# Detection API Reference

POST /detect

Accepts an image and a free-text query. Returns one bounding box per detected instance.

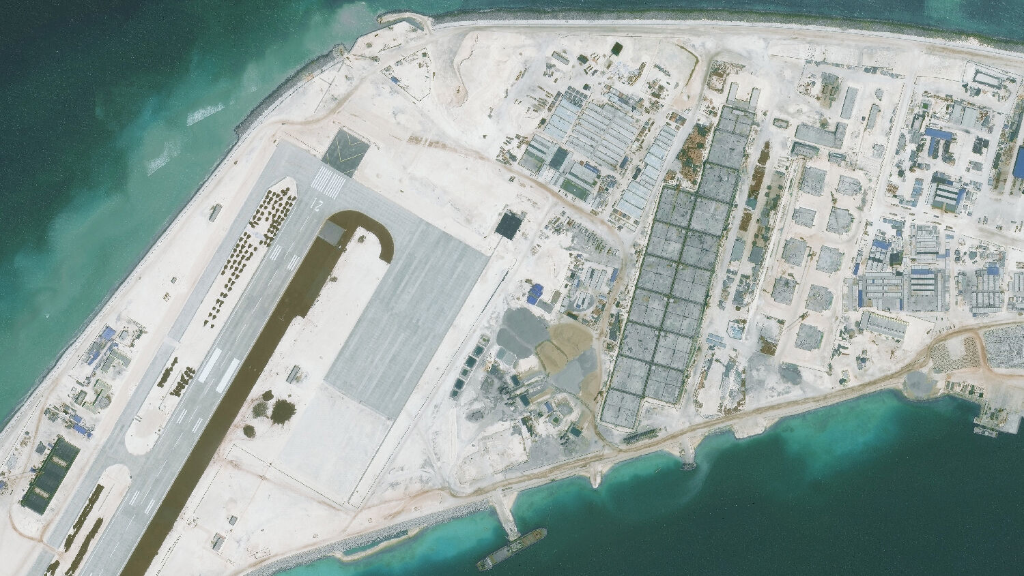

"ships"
[476,530,547,571]
[974,427,998,438]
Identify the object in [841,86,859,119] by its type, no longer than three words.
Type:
building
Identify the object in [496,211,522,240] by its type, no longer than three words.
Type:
building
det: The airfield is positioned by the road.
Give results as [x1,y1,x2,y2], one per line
[27,127,489,576]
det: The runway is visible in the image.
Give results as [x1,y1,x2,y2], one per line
[77,161,369,576]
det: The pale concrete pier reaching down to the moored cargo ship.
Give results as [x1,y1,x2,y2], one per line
[492,492,521,541]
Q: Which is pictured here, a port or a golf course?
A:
port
